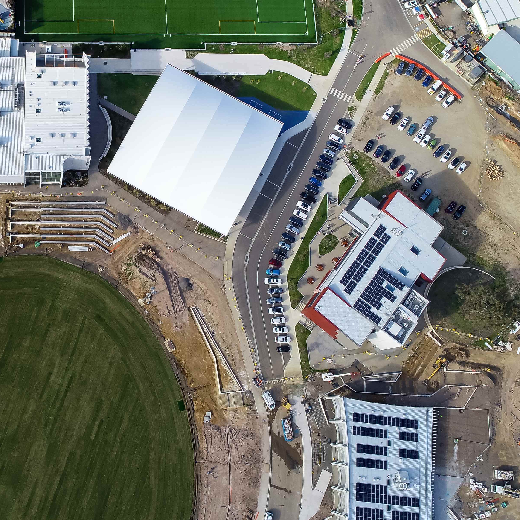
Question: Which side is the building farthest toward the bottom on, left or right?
right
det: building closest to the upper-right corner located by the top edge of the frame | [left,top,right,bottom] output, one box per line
[474,0,520,29]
